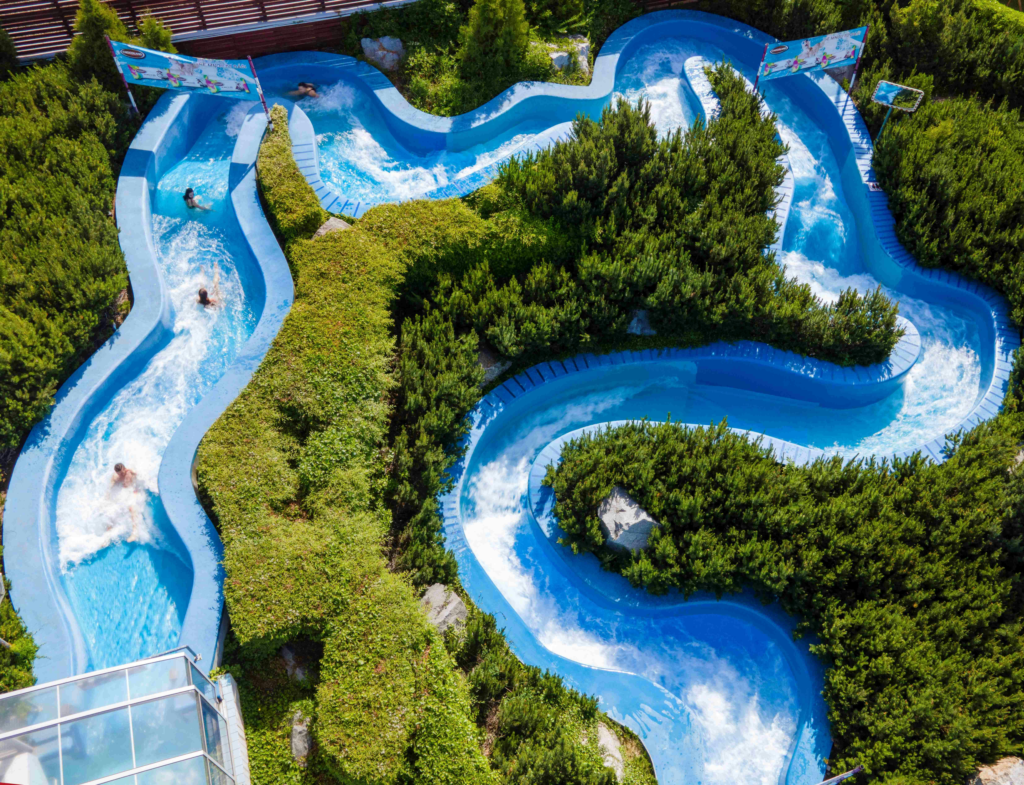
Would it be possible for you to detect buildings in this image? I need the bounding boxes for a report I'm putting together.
[0,651,237,785]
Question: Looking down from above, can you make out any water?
Yes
